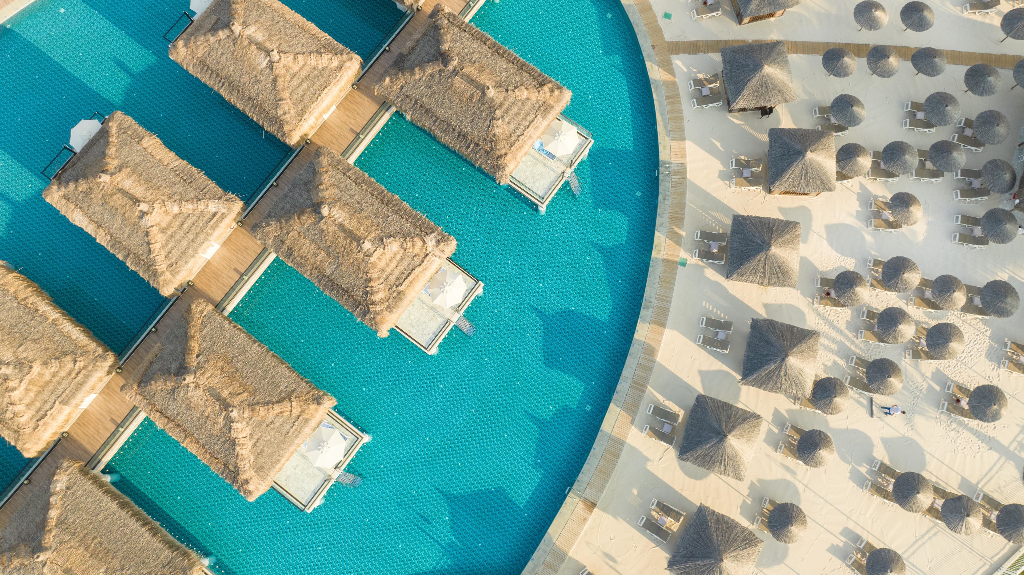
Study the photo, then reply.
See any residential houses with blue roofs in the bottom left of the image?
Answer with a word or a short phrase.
No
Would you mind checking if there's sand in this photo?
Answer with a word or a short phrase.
Yes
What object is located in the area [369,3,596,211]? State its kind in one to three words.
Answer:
house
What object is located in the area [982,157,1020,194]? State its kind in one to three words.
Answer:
umbrella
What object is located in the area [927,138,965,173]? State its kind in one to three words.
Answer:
umbrella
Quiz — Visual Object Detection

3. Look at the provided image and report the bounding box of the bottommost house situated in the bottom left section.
[0,449,221,575]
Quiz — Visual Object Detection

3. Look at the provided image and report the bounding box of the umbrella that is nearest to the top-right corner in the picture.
[1001,5,1024,38]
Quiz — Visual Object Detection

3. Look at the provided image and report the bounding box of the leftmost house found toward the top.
[43,110,252,301]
